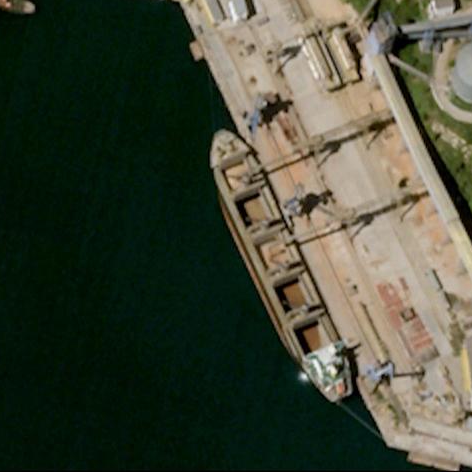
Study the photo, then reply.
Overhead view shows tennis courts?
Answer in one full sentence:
No, there isn't any tennis court down there.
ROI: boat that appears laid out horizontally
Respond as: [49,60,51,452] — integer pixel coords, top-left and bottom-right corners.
[0,0,37,15]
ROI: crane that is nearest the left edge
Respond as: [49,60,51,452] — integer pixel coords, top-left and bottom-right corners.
[241,91,268,150]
